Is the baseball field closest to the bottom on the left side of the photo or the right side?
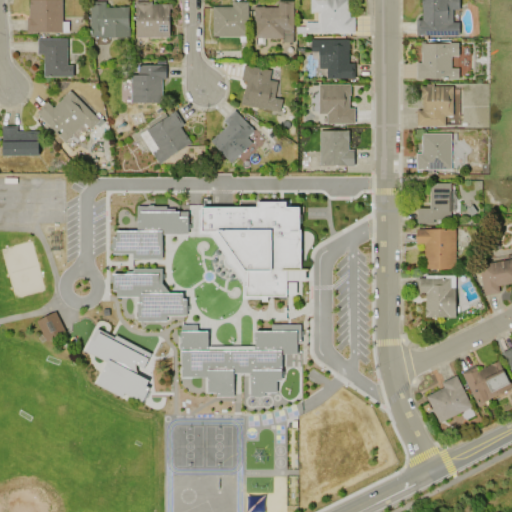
left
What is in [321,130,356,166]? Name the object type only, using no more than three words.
house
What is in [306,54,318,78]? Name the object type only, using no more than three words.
swimming pool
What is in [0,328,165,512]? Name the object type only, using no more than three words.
sports field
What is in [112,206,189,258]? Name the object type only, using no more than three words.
building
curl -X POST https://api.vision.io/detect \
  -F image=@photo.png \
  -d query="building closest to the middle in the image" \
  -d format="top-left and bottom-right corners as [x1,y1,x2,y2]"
[203,201,304,302]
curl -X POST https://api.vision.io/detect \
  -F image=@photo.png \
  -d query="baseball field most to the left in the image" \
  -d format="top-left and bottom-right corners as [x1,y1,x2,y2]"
[0,462,75,512]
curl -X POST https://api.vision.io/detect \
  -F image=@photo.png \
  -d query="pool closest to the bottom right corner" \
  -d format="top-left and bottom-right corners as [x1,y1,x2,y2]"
[461,280,479,302]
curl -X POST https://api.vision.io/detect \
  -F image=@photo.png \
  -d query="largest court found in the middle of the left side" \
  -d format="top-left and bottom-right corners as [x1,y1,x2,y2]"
[2,240,46,298]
